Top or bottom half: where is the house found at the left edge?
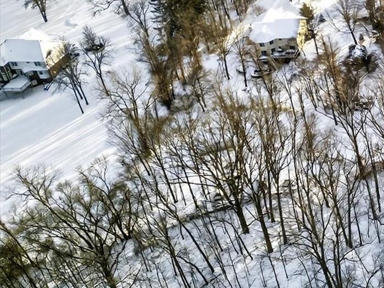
top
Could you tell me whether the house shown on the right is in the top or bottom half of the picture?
top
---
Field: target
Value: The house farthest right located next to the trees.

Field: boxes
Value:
[245,9,307,67]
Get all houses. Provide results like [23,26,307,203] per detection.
[0,27,75,95]
[245,9,307,67]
